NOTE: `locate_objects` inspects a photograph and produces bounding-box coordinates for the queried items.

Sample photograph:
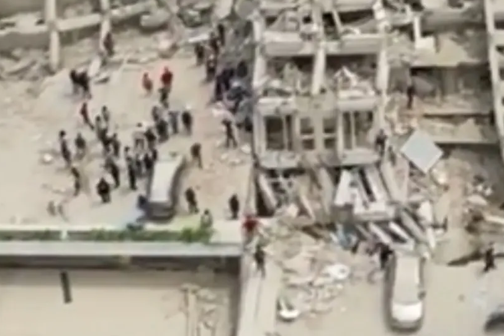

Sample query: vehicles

[142,148,184,215]
[385,251,427,331]
[487,304,504,326]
